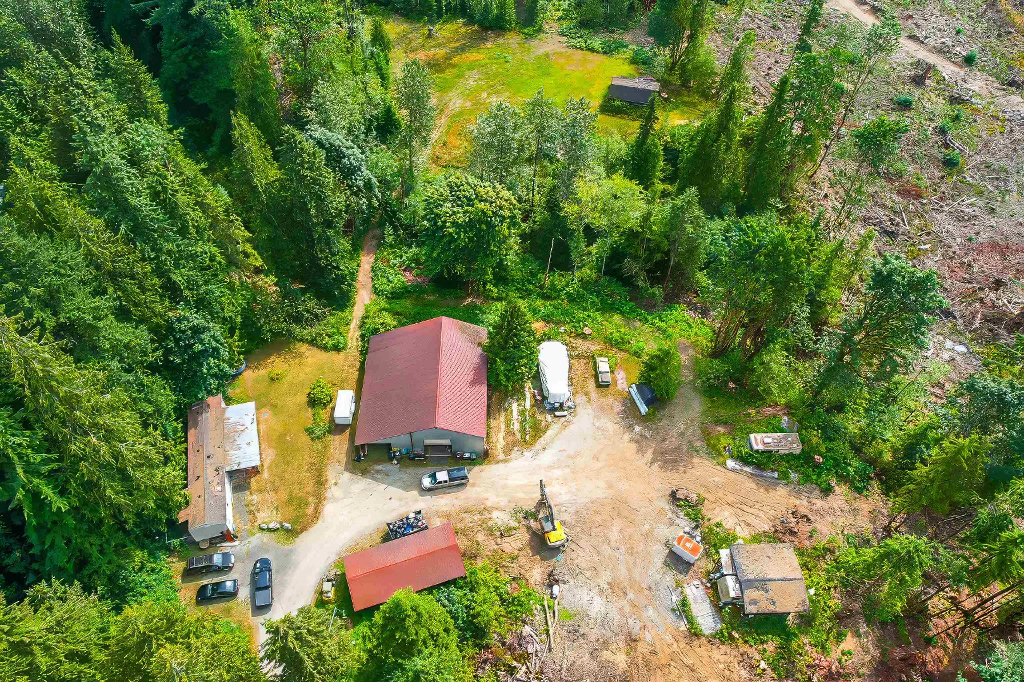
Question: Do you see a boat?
Yes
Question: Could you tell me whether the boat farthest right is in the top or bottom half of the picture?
bottom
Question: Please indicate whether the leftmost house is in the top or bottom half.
bottom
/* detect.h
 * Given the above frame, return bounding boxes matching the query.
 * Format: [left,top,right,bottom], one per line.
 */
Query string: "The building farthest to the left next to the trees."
[163,390,251,540]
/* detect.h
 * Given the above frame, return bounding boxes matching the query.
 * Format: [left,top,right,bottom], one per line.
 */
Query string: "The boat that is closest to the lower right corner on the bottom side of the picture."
[674,533,709,565]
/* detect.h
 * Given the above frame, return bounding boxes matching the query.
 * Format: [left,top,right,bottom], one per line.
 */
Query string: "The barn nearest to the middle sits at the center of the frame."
[355,318,488,462]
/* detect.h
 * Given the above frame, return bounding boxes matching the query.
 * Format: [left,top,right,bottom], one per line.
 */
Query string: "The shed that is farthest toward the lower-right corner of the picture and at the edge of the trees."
[730,544,808,622]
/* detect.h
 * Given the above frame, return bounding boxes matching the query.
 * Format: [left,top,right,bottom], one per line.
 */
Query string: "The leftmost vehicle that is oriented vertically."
[251,556,277,611]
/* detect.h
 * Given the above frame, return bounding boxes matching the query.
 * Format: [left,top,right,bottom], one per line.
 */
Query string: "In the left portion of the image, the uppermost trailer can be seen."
[331,386,359,429]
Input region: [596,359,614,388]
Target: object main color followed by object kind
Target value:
white vehicle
